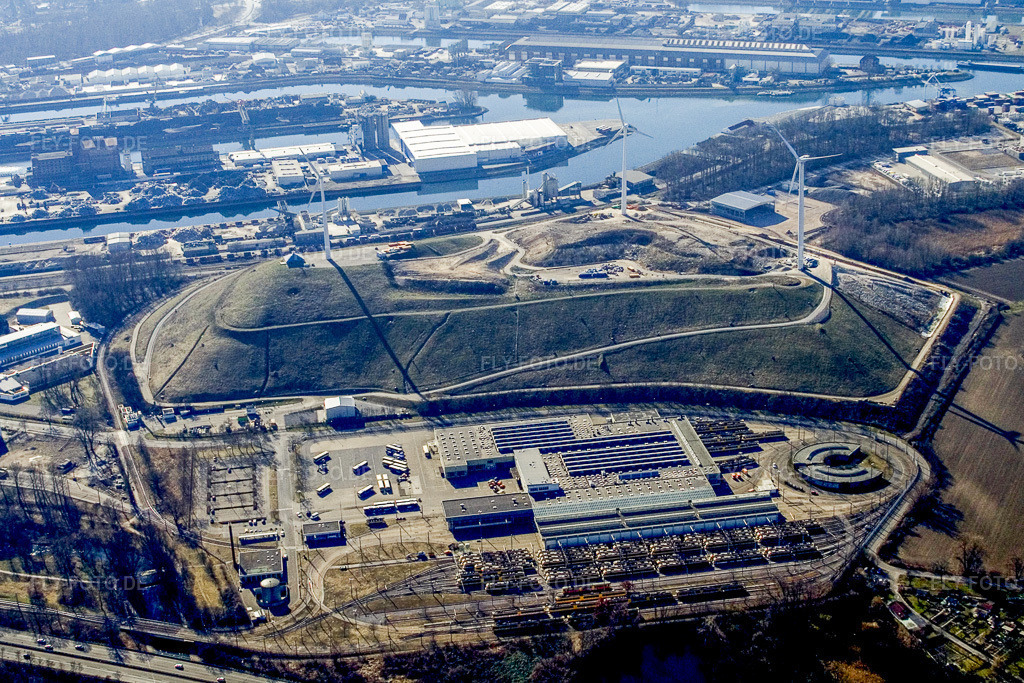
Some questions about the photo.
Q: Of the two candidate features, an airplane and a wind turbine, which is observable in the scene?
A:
wind turbine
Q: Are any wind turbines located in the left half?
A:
Yes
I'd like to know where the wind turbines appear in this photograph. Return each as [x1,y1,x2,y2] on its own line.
[299,151,354,262]
[777,122,848,269]
[604,99,650,214]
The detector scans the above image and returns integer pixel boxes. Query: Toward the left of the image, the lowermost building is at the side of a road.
[239,548,284,589]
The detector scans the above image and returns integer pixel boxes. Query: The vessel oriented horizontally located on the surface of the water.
[955,59,1023,71]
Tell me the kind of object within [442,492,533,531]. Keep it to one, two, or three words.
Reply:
shed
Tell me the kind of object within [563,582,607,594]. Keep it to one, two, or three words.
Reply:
train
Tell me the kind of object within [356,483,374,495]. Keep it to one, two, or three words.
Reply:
vehicle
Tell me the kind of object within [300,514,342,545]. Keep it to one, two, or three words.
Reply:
building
